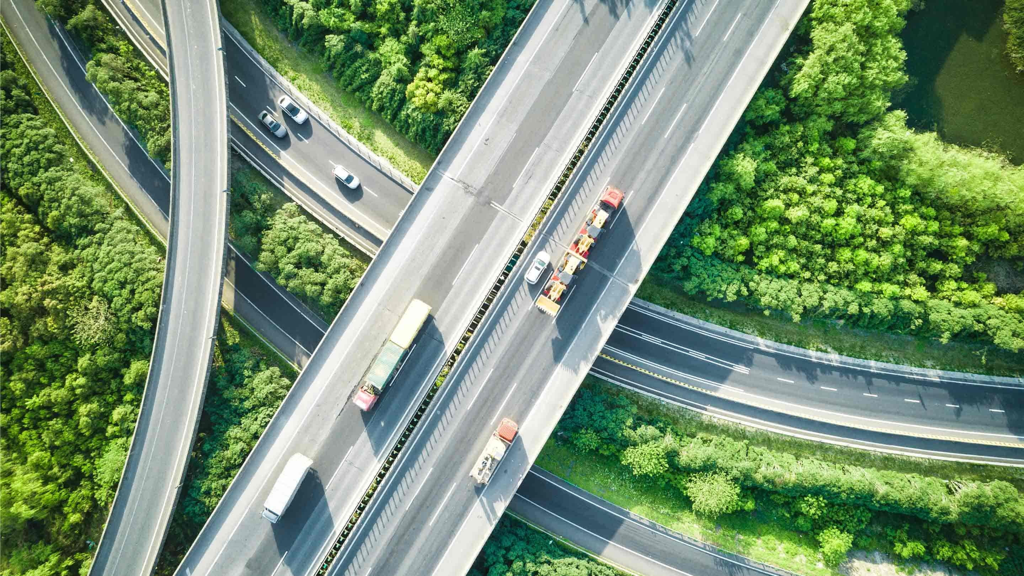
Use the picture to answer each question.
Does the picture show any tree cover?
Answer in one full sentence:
Yes, tree cover shows up in the scene.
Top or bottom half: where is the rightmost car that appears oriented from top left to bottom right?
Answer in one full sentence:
The top half of the photo is where the rightmost car that appears oriented from top left to bottom right is.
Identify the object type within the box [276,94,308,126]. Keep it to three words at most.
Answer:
car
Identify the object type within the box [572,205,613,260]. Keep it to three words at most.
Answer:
work vehicle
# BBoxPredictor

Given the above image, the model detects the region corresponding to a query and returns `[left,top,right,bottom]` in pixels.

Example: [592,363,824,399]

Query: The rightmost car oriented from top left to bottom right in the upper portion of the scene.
[330,164,360,191]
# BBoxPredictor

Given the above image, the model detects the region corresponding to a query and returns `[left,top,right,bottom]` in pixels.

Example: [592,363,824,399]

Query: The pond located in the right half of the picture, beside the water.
[874,0,1024,208]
